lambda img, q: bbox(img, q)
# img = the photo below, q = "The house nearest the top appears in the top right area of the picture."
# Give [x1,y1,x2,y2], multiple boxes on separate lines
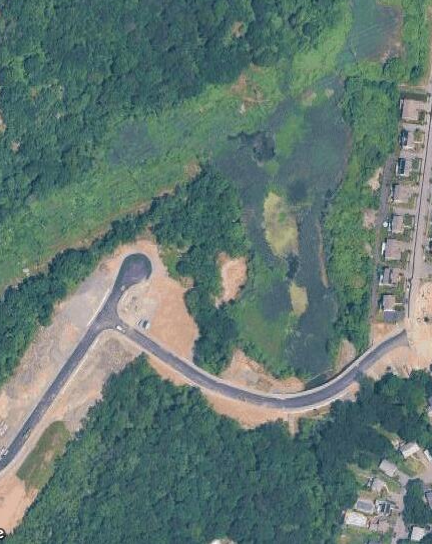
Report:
[399,97,420,119]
